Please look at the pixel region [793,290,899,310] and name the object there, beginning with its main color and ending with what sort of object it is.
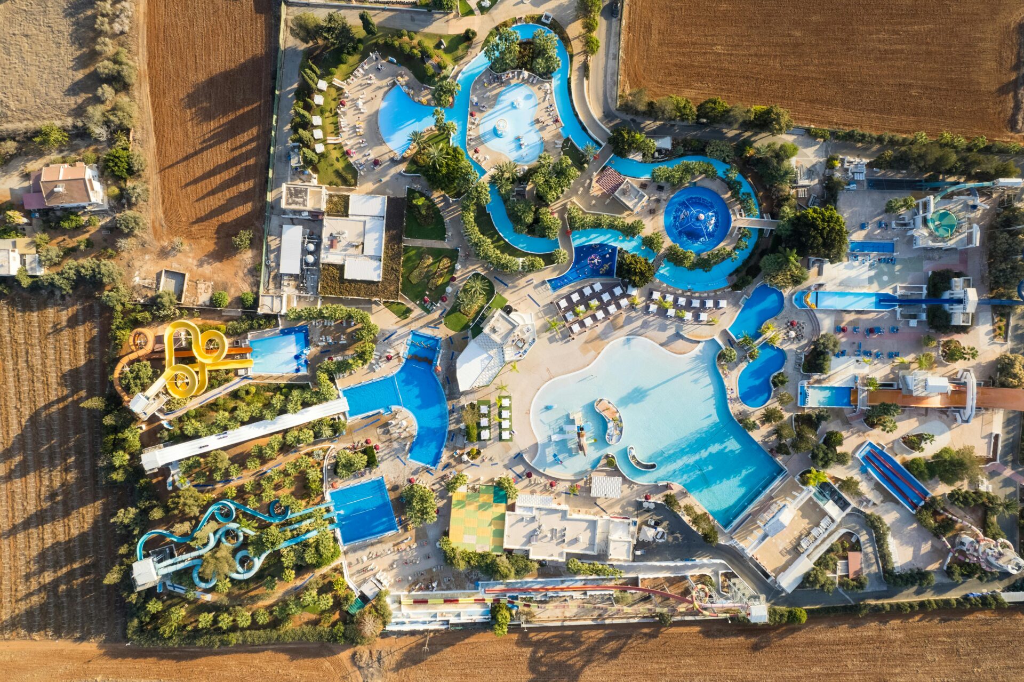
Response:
blue swimming pool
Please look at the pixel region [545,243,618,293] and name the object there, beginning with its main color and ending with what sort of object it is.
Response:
blue swimming pool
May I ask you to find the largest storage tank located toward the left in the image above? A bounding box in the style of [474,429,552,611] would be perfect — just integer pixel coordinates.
[159,269,192,303]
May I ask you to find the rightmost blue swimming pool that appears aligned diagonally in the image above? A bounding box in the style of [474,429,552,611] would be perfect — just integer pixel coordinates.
[858,441,932,512]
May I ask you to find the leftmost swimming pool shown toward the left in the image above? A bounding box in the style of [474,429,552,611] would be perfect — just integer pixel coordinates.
[250,326,309,375]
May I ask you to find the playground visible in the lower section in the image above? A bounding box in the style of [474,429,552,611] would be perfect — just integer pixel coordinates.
[552,412,594,457]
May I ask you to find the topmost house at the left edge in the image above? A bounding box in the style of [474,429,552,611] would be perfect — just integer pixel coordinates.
[18,162,110,210]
